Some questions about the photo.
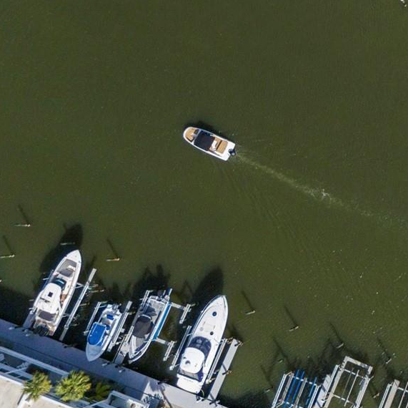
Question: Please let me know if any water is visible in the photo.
Yes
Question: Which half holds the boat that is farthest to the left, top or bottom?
bottom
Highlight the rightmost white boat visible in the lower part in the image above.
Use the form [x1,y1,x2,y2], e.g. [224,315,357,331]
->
[177,296,230,400]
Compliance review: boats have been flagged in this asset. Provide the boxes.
[177,296,230,400]
[29,250,84,341]
[183,129,237,161]
[126,288,172,362]
[84,301,124,361]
